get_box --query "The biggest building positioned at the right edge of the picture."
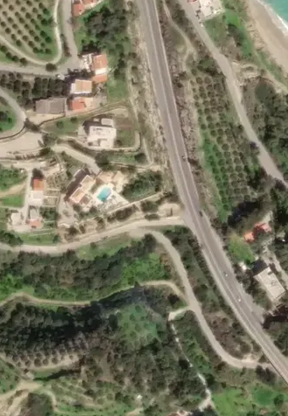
[253,268,284,302]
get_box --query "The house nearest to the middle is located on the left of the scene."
[69,170,126,210]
